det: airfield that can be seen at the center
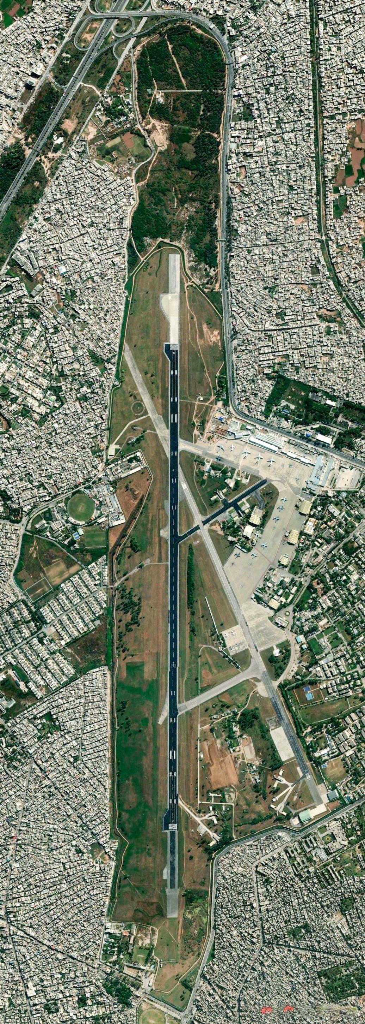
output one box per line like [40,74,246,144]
[108,254,330,917]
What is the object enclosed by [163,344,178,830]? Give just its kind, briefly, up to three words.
runway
